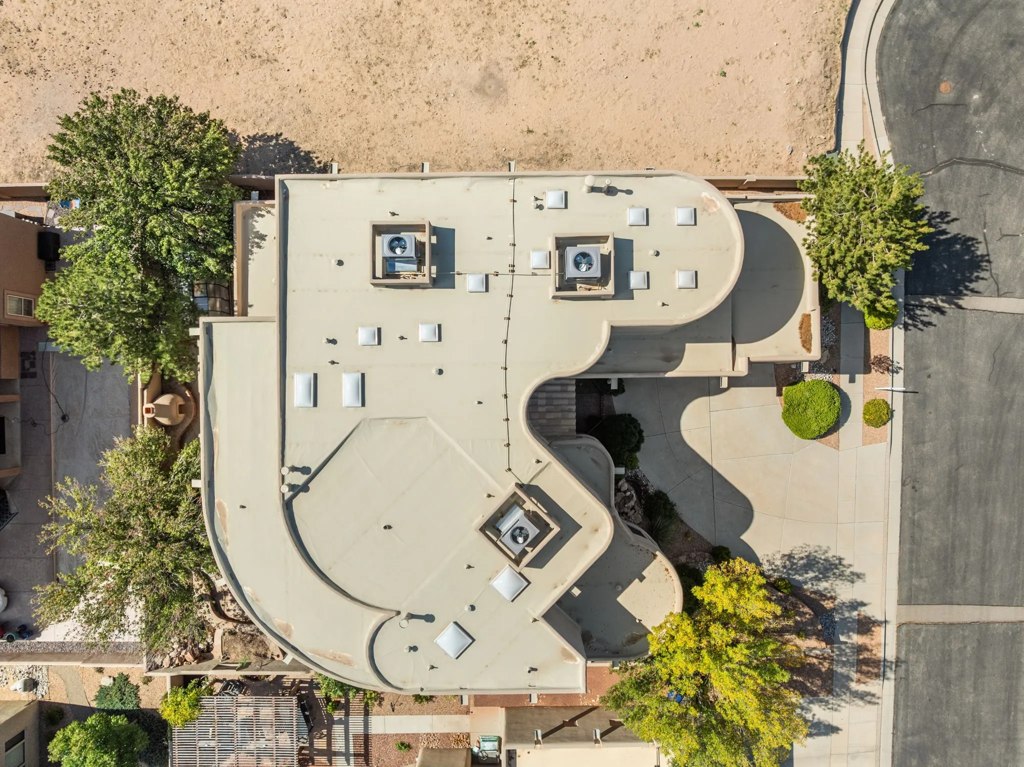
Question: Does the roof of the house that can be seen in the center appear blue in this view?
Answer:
No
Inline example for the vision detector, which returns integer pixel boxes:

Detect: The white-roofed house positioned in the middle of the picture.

[188,159,820,706]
